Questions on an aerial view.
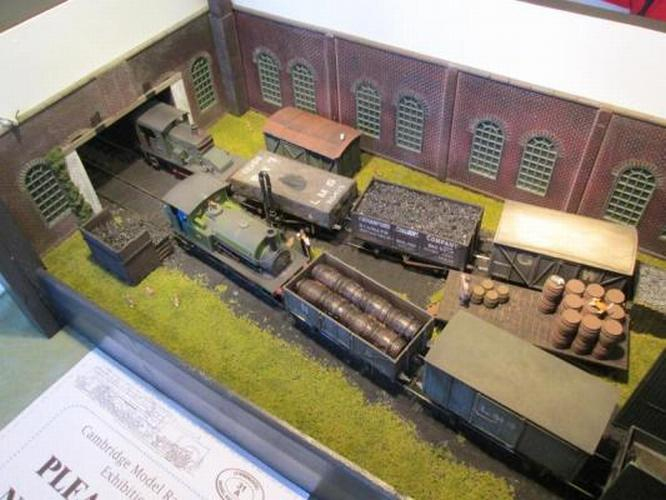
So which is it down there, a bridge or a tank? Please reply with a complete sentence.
It is a tank that can be seen here.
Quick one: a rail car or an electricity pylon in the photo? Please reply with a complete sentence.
I can see a rail car in this picture.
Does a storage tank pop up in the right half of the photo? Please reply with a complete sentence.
No, there is no storage tank in the right half of the photo.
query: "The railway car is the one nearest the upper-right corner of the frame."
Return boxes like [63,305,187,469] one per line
[343,176,487,272]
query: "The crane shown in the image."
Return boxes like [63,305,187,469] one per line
[260,174,282,233]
